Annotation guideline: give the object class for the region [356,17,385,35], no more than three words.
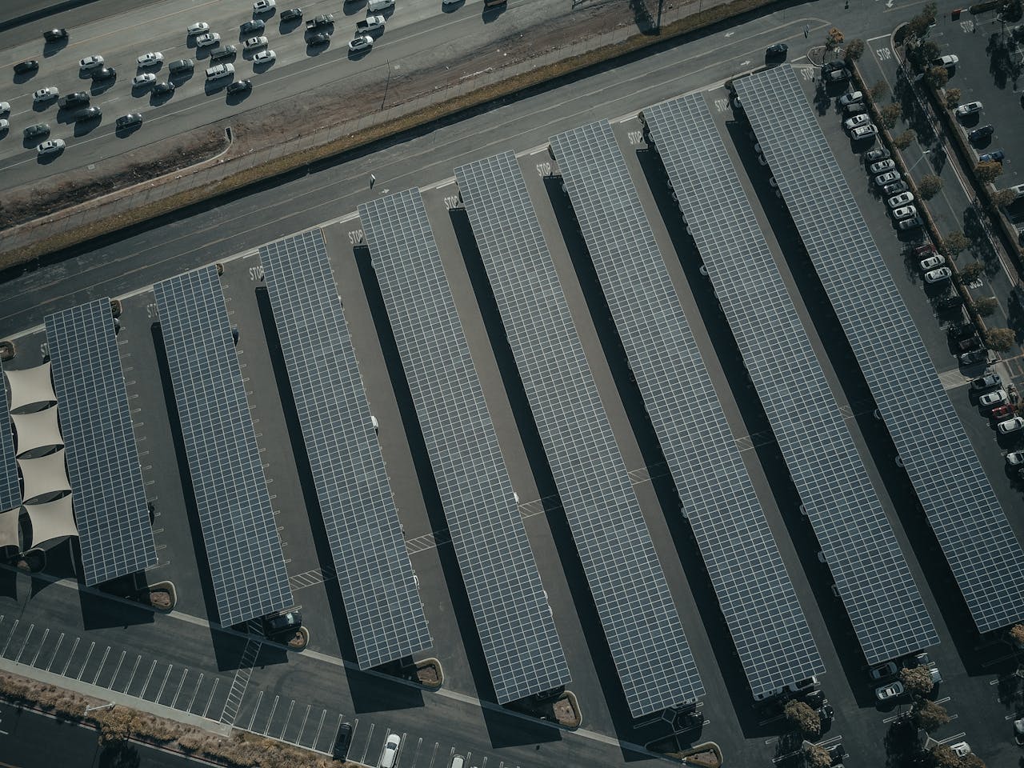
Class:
vehicle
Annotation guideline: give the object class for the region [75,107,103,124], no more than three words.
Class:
car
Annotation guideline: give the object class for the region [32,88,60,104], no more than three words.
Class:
car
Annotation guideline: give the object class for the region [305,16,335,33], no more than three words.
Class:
vehicle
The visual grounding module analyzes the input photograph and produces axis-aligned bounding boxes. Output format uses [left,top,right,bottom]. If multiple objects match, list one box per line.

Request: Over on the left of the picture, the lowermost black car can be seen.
[334,723,356,760]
